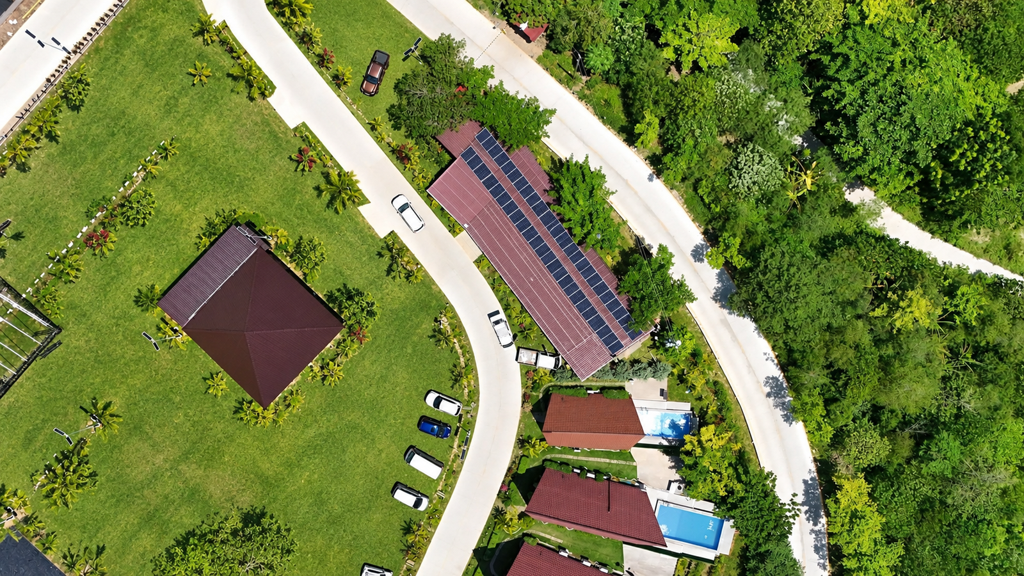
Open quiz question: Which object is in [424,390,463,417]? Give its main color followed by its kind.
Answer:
white car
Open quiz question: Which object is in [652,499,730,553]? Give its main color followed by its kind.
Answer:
blue swimming pool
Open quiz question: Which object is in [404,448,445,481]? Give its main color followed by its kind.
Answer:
white van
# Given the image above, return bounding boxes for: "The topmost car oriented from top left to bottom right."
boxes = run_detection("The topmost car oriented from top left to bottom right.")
[391,195,425,236]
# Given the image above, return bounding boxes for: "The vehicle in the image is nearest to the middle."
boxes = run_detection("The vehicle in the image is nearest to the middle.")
[486,308,517,353]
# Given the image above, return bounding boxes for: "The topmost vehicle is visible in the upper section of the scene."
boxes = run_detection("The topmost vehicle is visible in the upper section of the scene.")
[361,50,391,97]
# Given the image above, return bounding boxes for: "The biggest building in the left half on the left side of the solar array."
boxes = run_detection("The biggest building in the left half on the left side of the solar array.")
[153,223,344,408]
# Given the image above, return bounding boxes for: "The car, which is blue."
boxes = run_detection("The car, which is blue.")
[418,416,453,438]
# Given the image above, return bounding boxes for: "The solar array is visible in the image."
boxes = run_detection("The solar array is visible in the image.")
[461,147,624,355]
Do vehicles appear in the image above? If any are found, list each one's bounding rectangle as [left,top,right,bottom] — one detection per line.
[486,308,517,353]
[404,448,445,481]
[361,50,391,97]
[391,195,425,236]
[424,390,463,417]
[418,416,453,438]
[391,483,430,509]
[516,347,560,371]
[358,563,397,576]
